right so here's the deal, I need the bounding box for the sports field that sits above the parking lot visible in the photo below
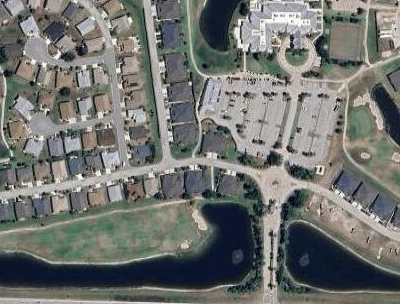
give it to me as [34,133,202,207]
[330,22,364,59]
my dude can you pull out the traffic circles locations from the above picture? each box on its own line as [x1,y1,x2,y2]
[254,163,300,206]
